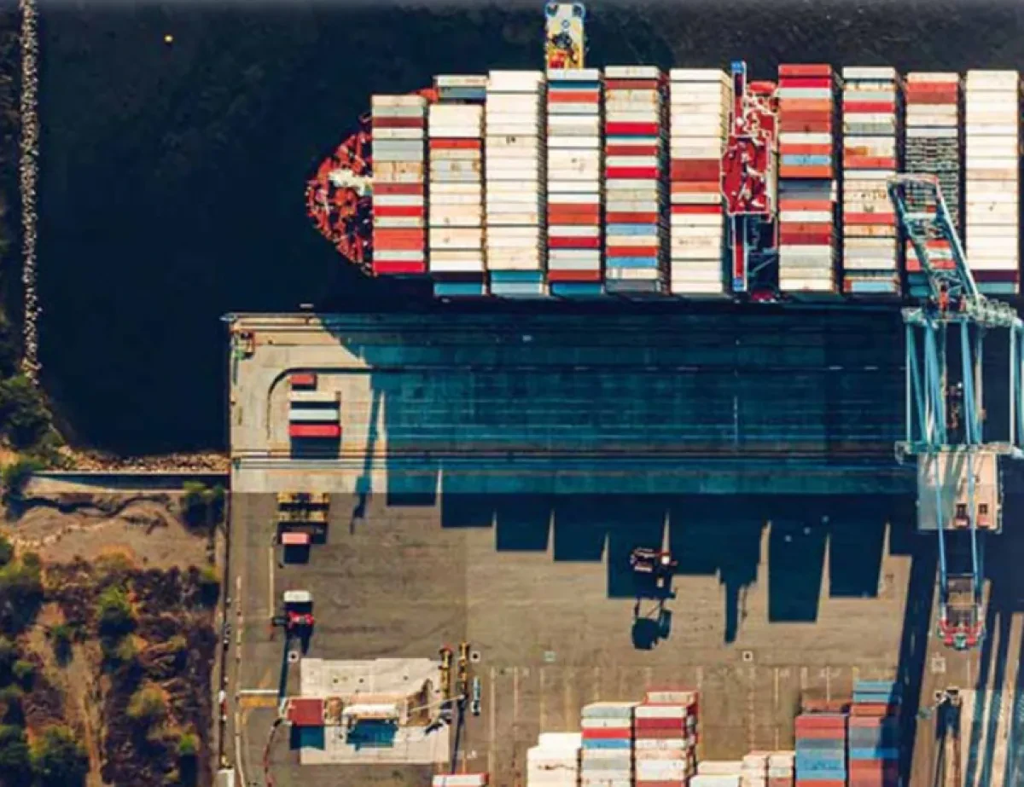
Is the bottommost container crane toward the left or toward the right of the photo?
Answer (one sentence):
It is on the right.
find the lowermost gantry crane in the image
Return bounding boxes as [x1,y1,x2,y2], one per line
[888,167,1024,651]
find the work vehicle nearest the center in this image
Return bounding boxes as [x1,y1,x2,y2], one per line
[633,548,679,572]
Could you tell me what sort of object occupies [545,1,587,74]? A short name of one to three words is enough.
boat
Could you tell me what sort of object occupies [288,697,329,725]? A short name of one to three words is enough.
shed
